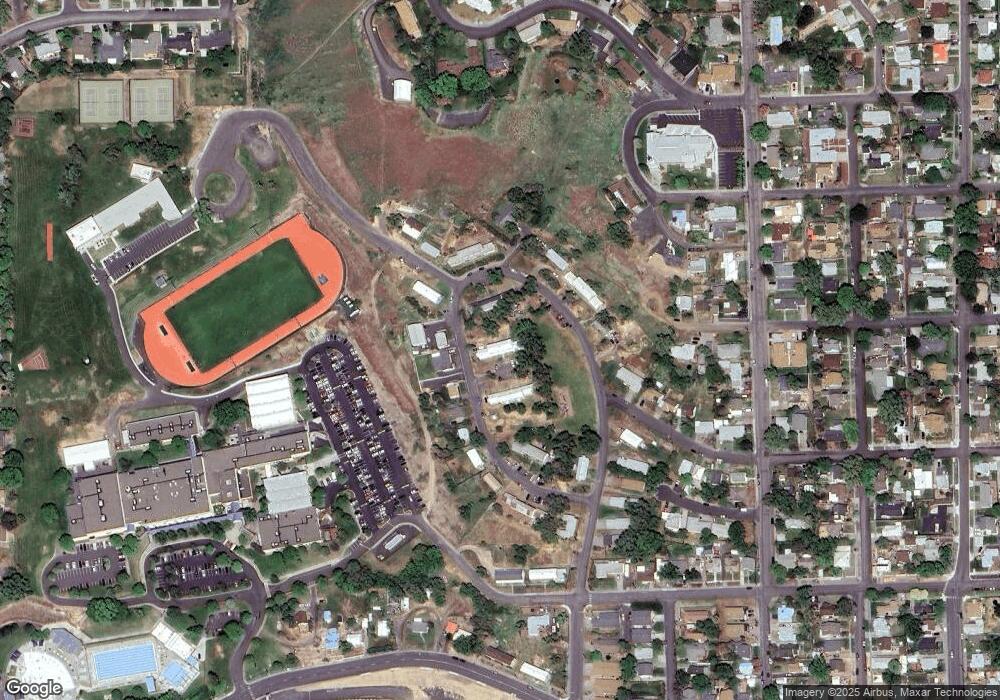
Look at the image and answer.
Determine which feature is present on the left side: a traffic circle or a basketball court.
traffic circle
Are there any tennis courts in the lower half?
No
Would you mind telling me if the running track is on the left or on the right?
left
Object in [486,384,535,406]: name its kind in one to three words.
building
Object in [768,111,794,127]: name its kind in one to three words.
house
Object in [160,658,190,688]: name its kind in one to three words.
swimming pool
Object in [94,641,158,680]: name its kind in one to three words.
swimming pool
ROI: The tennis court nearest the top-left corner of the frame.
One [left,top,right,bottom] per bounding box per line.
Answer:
[79,78,123,123]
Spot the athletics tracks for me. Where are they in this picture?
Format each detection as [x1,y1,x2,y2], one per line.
[140,213,345,387]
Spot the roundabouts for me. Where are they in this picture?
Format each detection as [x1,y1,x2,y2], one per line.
[198,158,255,219]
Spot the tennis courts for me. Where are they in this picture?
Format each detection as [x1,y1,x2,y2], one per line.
[130,78,173,122]
[79,78,123,123]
